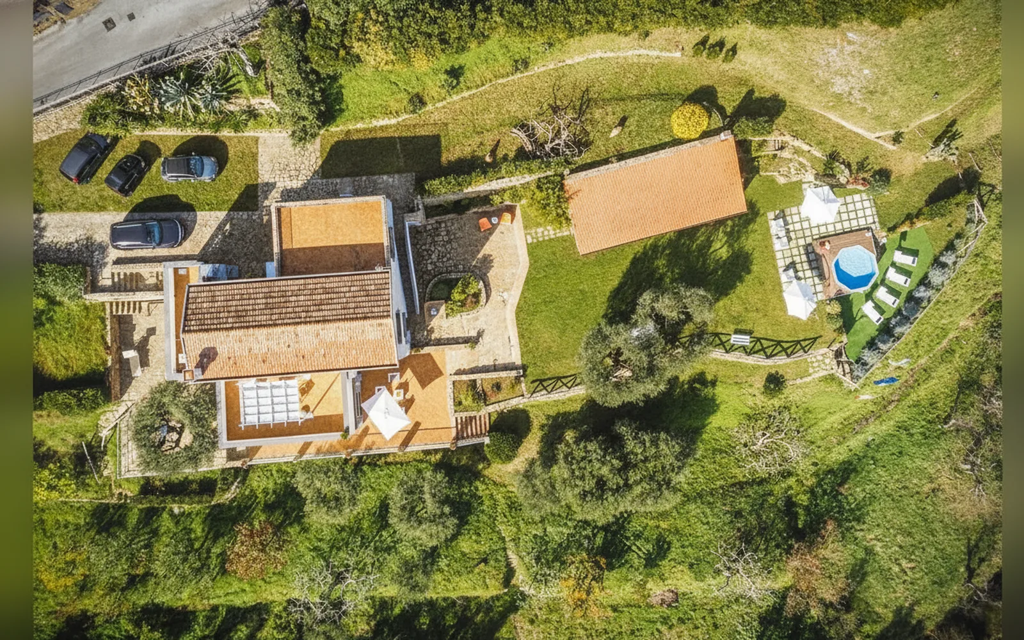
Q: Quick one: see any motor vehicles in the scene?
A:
Yes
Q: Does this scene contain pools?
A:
Yes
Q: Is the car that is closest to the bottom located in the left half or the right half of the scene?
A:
left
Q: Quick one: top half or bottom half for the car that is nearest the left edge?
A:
top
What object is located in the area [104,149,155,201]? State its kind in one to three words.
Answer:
car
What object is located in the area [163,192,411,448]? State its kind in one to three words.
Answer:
house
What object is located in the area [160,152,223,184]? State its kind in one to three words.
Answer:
car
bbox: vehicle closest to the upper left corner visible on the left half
[57,129,120,192]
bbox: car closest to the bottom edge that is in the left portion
[110,218,187,252]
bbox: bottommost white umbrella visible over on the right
[777,279,814,318]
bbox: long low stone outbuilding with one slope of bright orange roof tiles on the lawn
[561,130,749,256]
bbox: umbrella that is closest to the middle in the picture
[366,390,411,436]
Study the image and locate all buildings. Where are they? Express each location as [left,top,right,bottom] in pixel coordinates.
[163,192,411,448]
[561,130,749,256]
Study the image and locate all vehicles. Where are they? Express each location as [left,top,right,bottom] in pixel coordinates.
[160,152,223,184]
[110,218,187,252]
[104,149,155,201]
[57,129,120,192]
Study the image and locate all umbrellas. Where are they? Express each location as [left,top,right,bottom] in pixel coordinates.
[366,390,411,436]
[777,279,814,318]
[796,186,837,223]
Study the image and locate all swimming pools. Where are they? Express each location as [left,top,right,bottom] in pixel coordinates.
[832,245,880,296]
